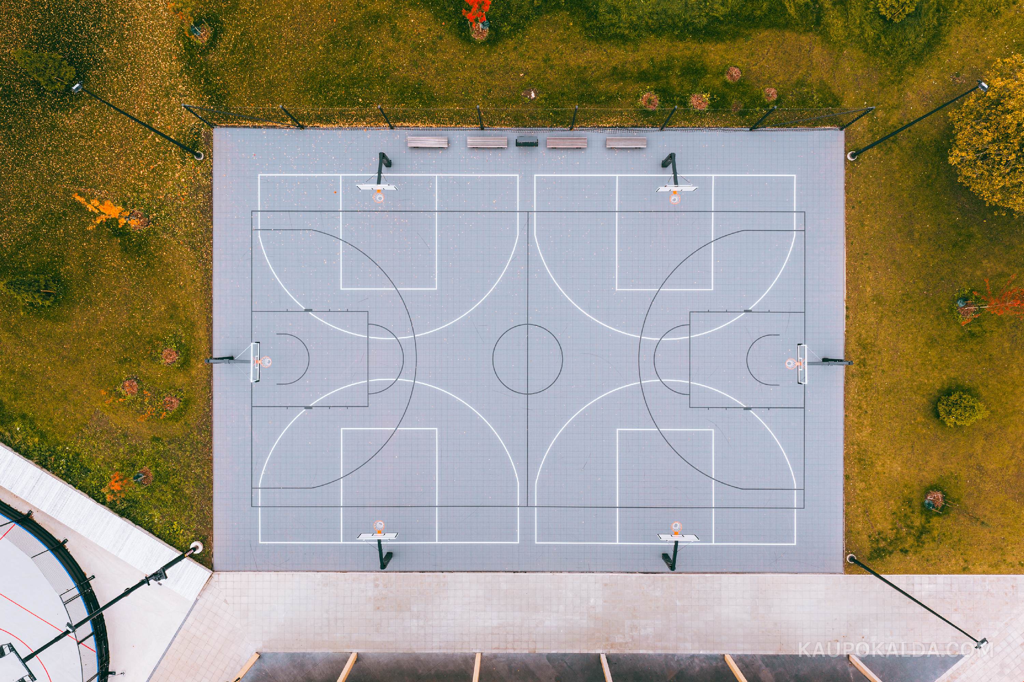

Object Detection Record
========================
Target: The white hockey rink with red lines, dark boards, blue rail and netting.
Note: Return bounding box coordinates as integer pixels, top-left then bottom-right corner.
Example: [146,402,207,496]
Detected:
[0,501,116,682]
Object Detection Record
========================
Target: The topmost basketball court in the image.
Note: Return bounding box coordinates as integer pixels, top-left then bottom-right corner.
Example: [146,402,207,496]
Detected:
[211,126,846,574]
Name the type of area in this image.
sports ground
